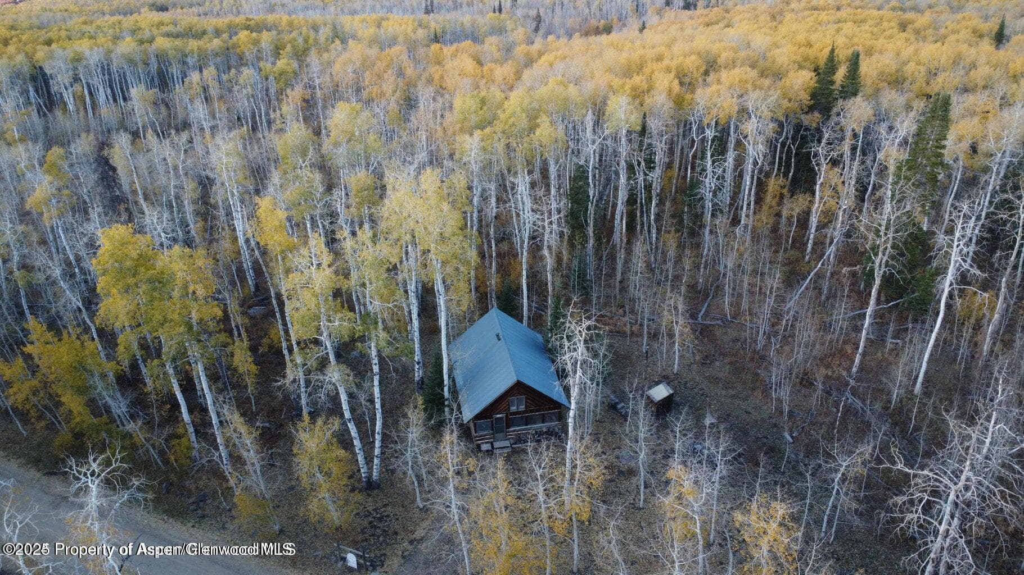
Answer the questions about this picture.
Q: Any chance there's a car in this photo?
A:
No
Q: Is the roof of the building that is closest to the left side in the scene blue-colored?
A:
Yes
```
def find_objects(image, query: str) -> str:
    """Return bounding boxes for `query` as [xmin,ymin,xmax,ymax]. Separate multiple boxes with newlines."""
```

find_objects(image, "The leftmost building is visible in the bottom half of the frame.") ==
[451,306,569,450]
